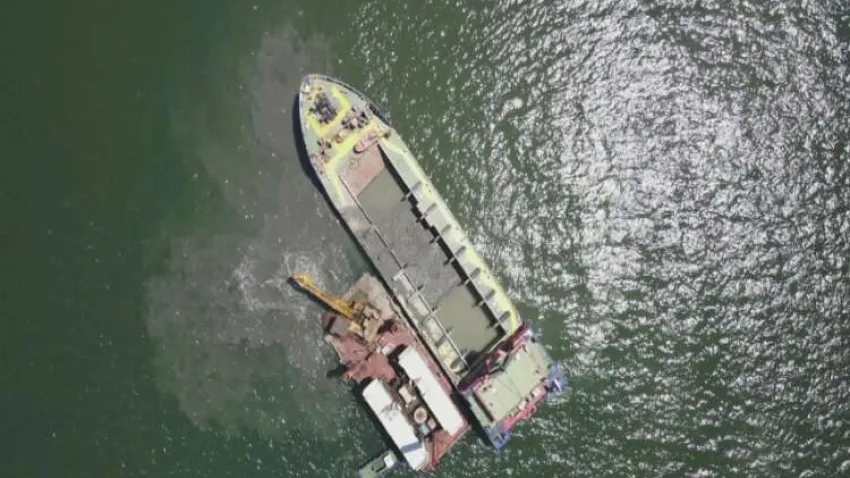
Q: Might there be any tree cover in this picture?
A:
No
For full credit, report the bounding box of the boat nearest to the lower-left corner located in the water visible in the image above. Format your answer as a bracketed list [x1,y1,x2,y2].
[360,448,400,478]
